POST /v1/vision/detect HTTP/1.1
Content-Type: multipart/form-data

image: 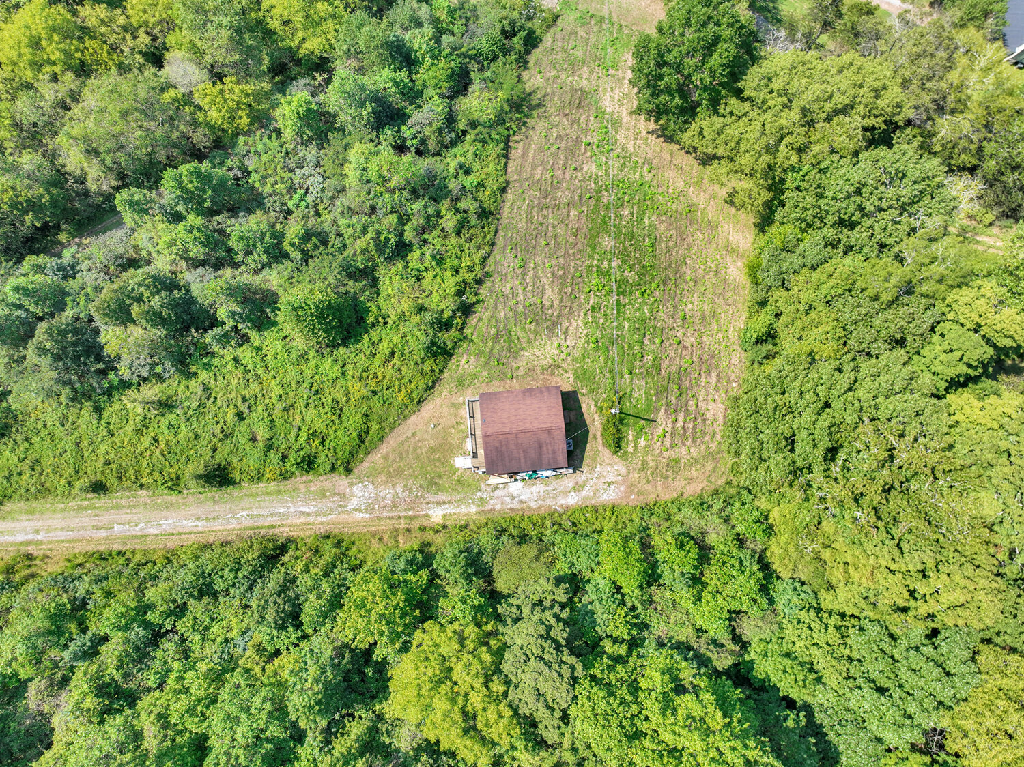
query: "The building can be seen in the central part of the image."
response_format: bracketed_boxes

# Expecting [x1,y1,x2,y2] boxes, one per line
[455,386,569,475]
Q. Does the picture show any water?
No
